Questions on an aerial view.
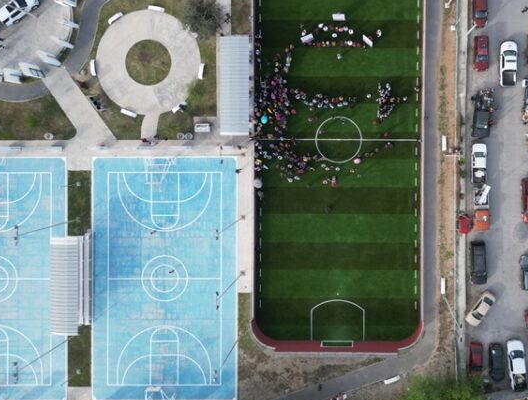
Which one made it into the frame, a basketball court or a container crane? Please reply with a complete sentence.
The one in the frame is a basketball court.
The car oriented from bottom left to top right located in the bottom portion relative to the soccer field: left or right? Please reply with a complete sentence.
The soccer field has the car oriented from bottom left to top right located in the bottom portion on its right side.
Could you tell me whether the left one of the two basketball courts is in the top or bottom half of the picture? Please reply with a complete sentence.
You can find the left one of the two basketball courts in the bottom half.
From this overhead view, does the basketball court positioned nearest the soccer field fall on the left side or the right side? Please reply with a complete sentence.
The basketball court positioned nearest the soccer field appears in the left half of the scene.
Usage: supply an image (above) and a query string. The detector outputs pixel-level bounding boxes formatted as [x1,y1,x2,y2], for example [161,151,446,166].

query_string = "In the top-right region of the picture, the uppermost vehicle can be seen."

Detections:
[471,0,489,28]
